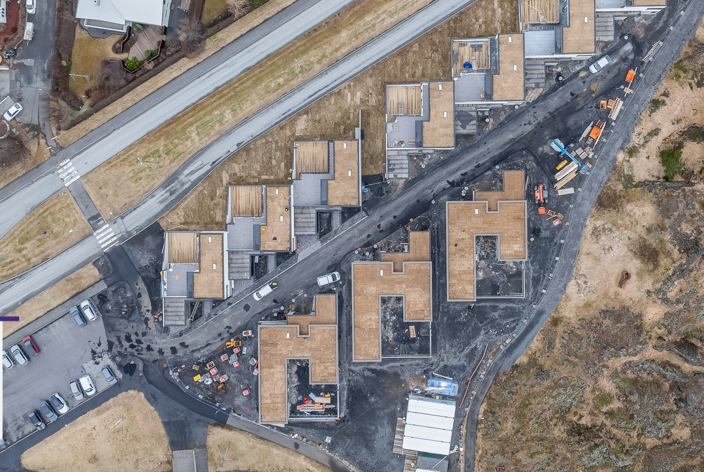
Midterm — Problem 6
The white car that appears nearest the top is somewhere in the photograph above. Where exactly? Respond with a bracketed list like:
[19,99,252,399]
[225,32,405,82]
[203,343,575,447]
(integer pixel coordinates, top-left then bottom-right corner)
[24,0,38,15]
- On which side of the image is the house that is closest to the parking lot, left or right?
left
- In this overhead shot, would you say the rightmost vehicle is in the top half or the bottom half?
top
